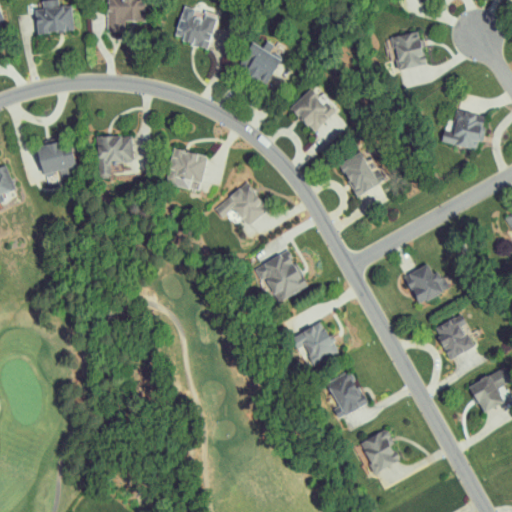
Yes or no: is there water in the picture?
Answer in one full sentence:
No, the scene doesn't show any water.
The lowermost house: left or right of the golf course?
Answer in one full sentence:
In the image, the lowermost house sits on the right side of the golf course.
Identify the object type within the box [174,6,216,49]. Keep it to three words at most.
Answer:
house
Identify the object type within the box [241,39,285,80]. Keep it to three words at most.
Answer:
house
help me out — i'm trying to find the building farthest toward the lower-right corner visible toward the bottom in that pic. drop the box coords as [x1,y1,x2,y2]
[469,372,512,414]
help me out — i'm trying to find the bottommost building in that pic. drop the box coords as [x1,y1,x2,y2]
[360,429,401,477]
